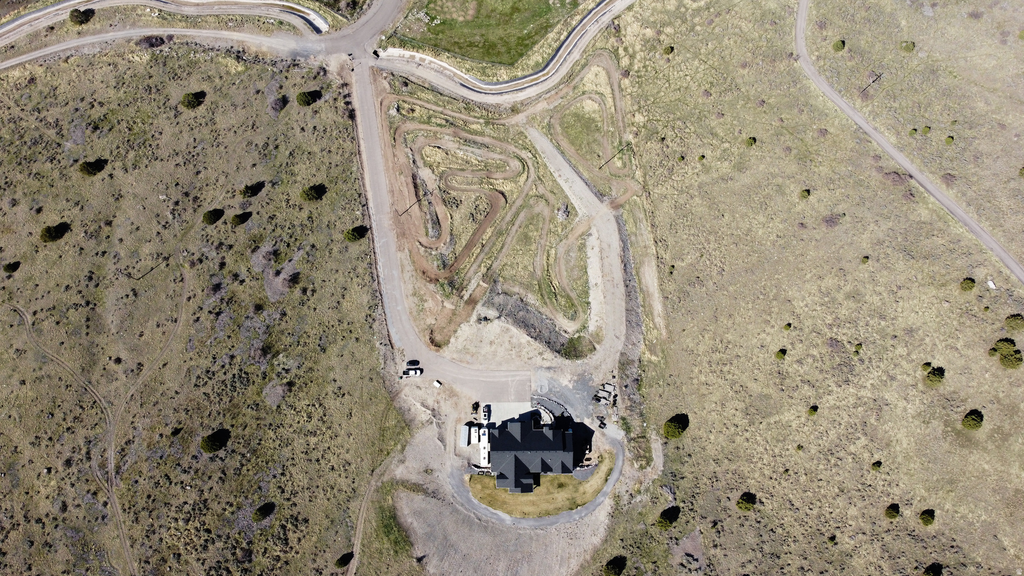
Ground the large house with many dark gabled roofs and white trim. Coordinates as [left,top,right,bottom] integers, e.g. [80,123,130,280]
[490,421,574,493]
